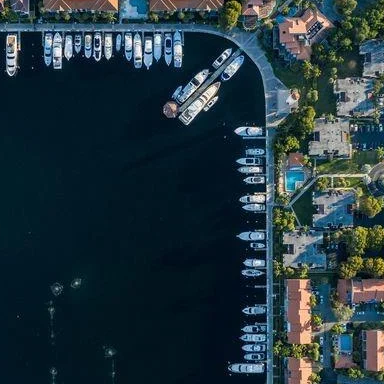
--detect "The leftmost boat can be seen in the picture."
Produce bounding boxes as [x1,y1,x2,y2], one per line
[6,33,19,76]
